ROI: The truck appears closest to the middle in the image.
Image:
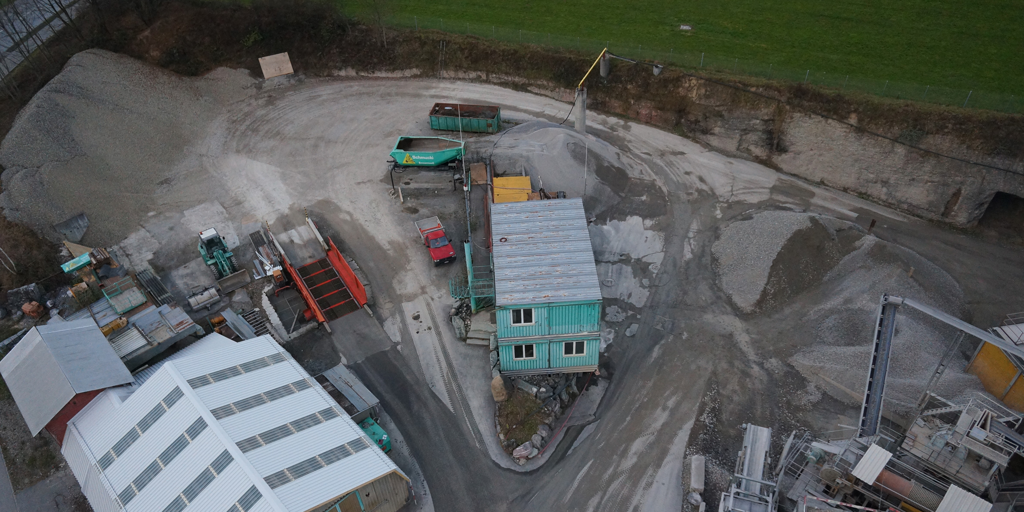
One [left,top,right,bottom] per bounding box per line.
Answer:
[414,216,458,268]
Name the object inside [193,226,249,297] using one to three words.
work vehicle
